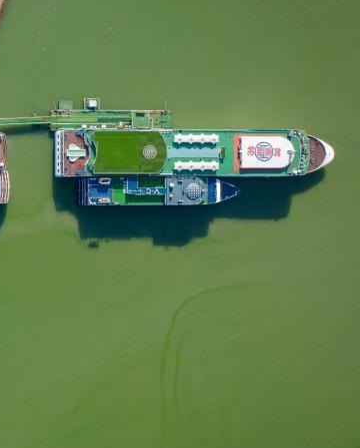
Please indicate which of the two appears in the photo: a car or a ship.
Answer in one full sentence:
Of the two, only a ship appears.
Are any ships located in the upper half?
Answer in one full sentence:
Yes, there is a ship in the upper half.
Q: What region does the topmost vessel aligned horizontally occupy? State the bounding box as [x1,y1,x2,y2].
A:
[52,130,333,177]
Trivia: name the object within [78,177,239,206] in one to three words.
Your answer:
ship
